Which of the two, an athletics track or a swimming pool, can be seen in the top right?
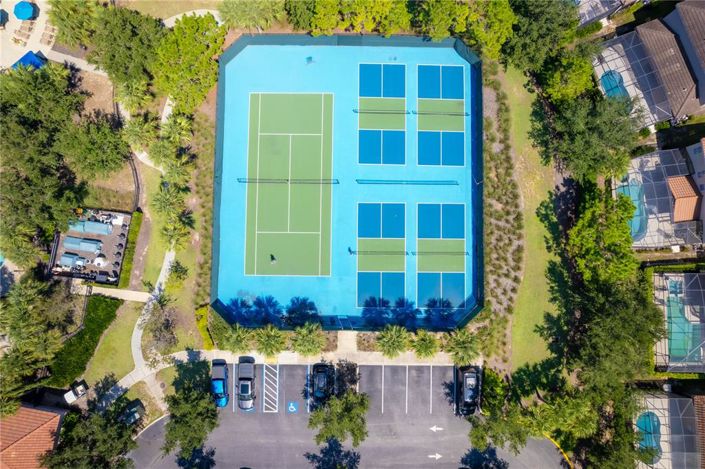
swimming pool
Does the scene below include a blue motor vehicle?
Yes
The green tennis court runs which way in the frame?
from top to bottom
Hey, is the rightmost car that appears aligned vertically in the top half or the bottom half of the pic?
bottom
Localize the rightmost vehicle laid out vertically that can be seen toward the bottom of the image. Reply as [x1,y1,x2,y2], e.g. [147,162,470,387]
[458,368,478,414]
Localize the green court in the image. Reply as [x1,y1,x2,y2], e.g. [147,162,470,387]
[244,92,333,276]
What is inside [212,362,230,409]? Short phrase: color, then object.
blue vehicle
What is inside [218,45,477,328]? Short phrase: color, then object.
blue sports court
